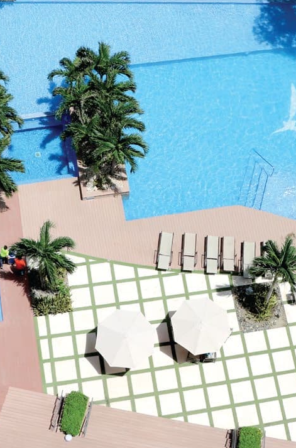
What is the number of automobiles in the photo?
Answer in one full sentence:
The count of automobiles is 0.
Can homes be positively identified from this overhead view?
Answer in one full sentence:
No, the photo shows no home.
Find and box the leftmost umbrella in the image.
[95,311,157,372]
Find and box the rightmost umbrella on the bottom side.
[168,298,230,360]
